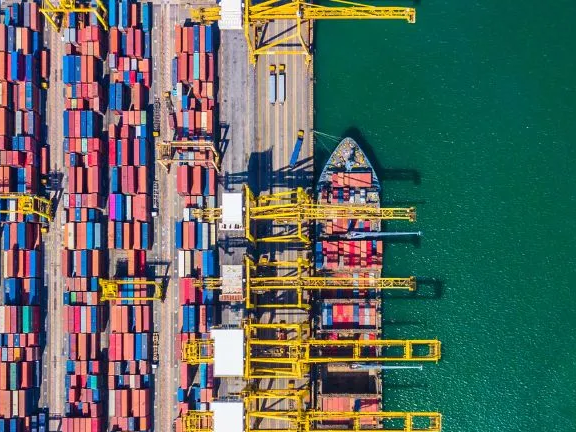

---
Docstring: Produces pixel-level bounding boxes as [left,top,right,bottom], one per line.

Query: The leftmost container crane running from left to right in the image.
[0,193,52,222]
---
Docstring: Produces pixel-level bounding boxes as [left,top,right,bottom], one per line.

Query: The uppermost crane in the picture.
[42,0,110,34]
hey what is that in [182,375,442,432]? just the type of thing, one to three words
container crane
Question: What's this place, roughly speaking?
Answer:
port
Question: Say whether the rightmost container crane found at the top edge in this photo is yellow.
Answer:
Yes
